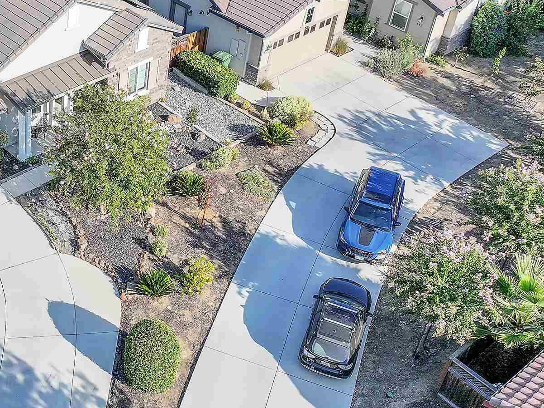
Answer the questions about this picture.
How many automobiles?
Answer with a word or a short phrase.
two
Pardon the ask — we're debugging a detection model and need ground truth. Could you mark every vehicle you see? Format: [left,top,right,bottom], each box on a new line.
[303,267,379,375]
[336,166,396,259]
